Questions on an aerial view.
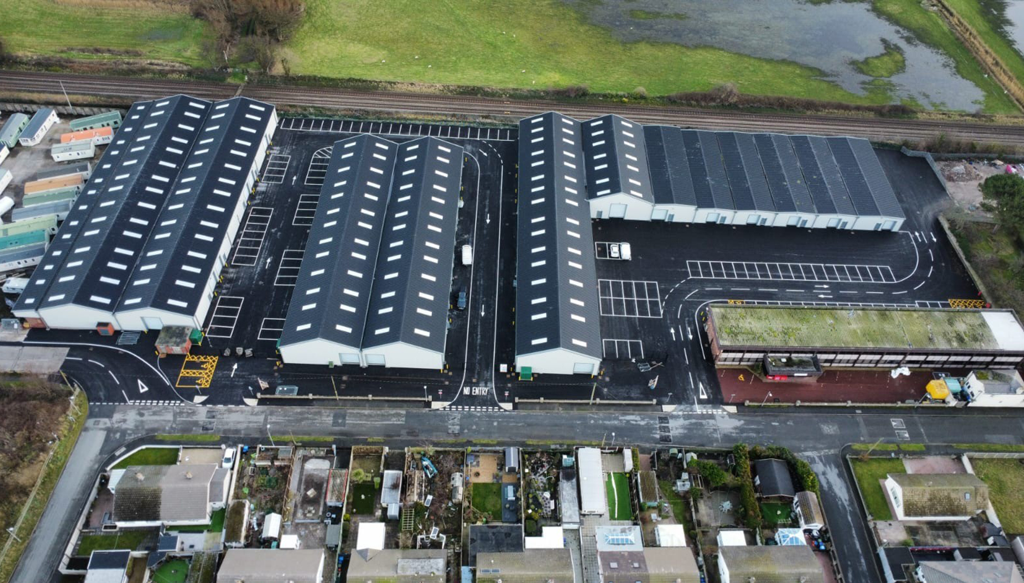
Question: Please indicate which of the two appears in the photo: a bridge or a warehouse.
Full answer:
There is a warehouse in the scene.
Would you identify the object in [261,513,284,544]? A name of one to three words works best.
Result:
shed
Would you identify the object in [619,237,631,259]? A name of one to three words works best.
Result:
vehicle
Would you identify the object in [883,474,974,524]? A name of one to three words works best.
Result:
house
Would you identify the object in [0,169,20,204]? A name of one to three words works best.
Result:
camper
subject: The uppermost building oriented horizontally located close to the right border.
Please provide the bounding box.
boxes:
[707,304,1024,379]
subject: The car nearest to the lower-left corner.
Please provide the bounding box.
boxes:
[219,446,236,469]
